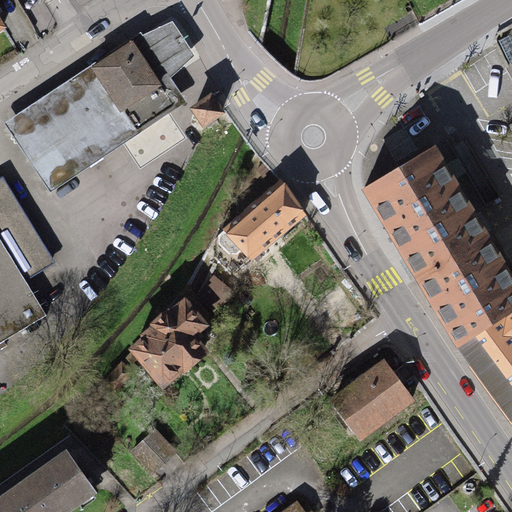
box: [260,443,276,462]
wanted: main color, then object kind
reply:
blue car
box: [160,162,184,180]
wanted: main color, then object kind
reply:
black car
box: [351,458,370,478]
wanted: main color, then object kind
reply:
blue car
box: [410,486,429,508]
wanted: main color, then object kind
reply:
black car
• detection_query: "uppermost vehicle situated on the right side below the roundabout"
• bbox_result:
[308,190,330,215]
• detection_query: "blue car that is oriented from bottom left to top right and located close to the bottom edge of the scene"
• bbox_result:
[264,492,287,511]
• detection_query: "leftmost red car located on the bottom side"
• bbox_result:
[414,360,432,380]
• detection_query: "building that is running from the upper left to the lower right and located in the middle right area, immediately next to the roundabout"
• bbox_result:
[364,146,512,348]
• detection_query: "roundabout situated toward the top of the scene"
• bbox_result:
[268,92,358,182]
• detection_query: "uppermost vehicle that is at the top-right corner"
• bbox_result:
[488,68,501,98]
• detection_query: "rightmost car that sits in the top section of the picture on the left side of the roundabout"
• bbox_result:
[251,108,267,130]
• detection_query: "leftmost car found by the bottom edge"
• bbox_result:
[228,467,249,488]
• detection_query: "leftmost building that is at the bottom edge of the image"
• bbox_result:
[0,450,96,512]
